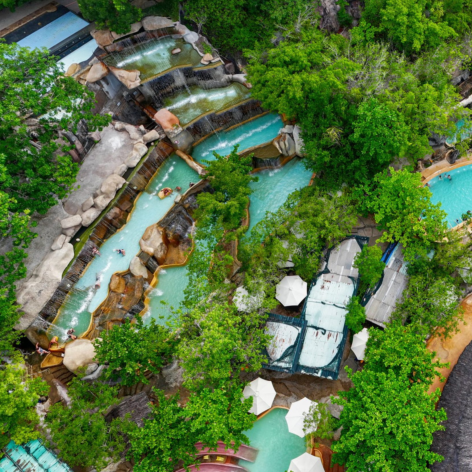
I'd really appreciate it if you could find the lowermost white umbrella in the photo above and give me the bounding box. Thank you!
[287,449,326,472]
